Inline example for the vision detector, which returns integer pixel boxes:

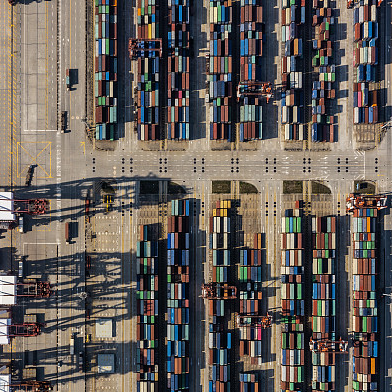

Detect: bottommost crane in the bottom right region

[307,330,347,351]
